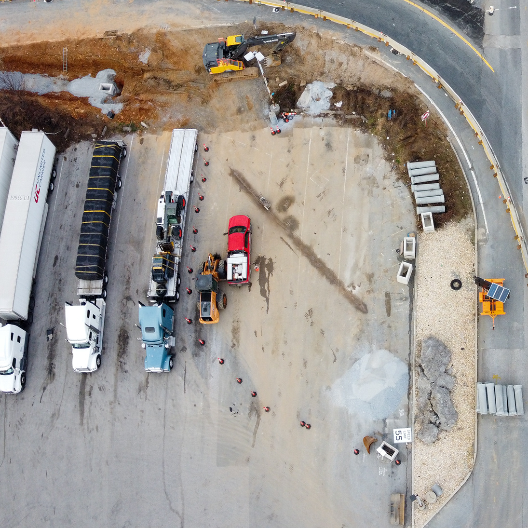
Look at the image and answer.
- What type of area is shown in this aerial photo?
parking lot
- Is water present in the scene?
No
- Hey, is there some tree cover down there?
No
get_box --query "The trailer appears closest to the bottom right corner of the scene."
[469,263,515,332]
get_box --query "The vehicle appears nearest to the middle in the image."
[223,216,253,289]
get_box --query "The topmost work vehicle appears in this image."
[191,37,287,92]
